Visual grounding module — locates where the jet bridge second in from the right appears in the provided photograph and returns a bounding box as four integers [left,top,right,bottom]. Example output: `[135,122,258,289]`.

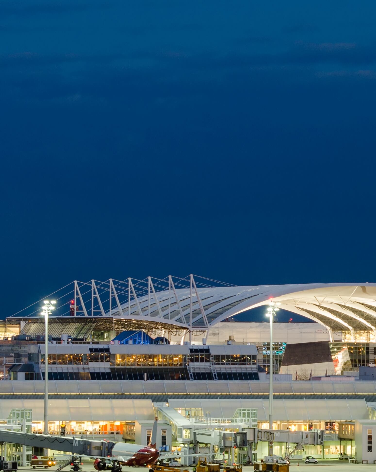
[194,431,251,466]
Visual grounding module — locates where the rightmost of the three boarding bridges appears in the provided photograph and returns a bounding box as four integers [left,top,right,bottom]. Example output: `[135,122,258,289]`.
[252,424,332,465]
